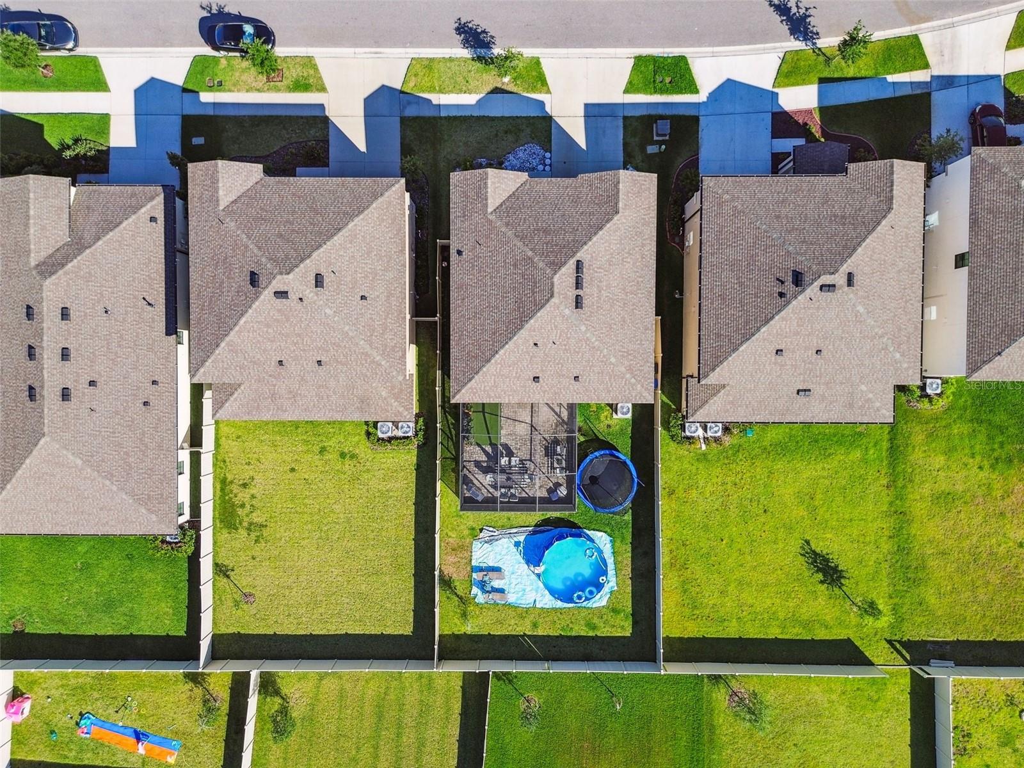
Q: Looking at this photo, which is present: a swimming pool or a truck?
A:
swimming pool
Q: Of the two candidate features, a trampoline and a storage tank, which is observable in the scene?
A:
trampoline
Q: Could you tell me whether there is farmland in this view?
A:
No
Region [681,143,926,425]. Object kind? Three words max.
house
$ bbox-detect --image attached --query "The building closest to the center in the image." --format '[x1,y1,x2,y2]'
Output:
[450,168,658,404]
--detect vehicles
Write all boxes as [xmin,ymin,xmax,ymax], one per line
[207,18,276,55]
[968,104,1007,148]
[0,16,78,55]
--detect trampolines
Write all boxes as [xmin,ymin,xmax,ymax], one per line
[577,450,645,511]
